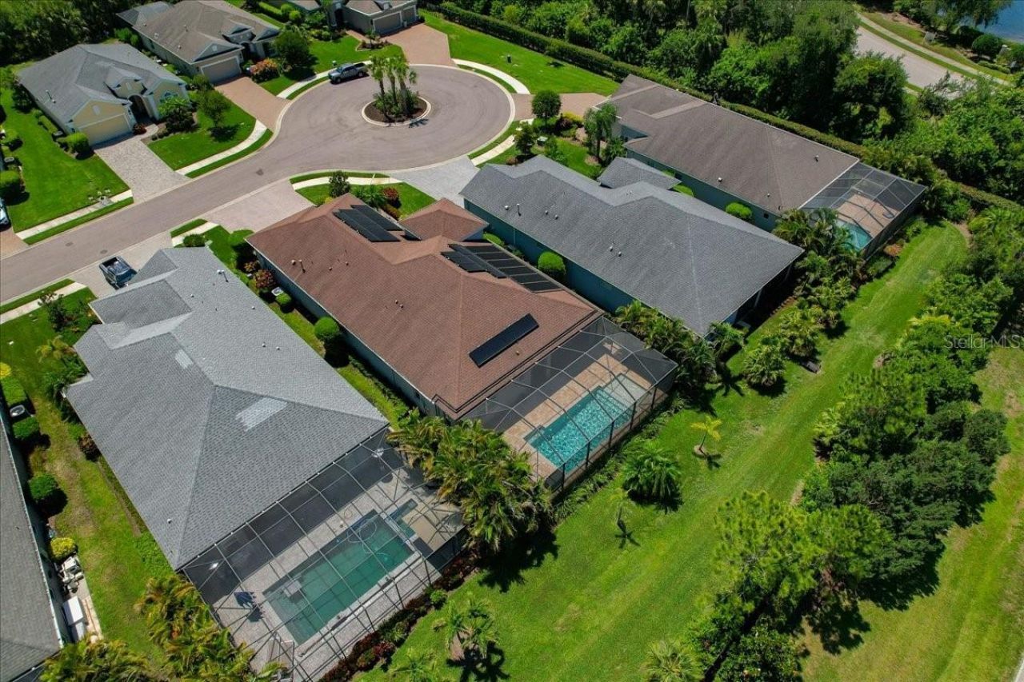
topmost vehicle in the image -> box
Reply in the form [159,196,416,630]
[327,60,369,85]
